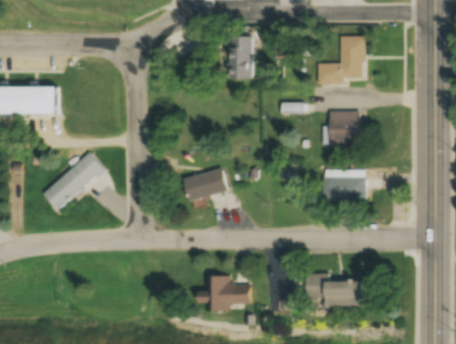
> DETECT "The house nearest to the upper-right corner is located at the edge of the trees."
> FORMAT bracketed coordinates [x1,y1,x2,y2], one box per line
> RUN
[318,36,368,86]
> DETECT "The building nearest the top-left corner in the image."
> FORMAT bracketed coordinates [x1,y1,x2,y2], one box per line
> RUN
[0,82,63,116]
